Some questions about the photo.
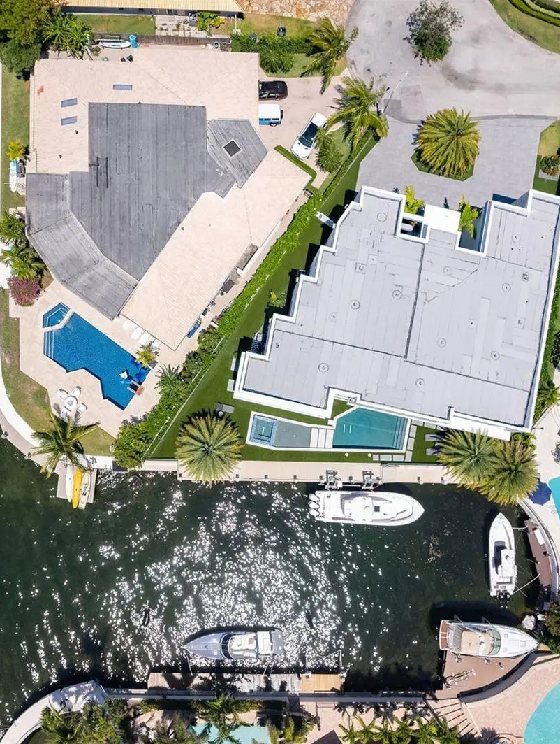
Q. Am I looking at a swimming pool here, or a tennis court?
swimming pool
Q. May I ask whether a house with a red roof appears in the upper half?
No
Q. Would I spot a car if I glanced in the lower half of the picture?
No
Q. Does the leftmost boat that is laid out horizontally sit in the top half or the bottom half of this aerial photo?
bottom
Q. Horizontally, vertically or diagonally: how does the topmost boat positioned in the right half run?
horizontally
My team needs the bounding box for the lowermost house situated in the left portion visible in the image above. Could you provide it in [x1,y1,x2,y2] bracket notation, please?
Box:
[26,45,312,351]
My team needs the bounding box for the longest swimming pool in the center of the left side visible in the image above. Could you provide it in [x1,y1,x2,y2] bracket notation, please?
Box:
[41,309,151,414]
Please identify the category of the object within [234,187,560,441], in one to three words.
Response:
house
